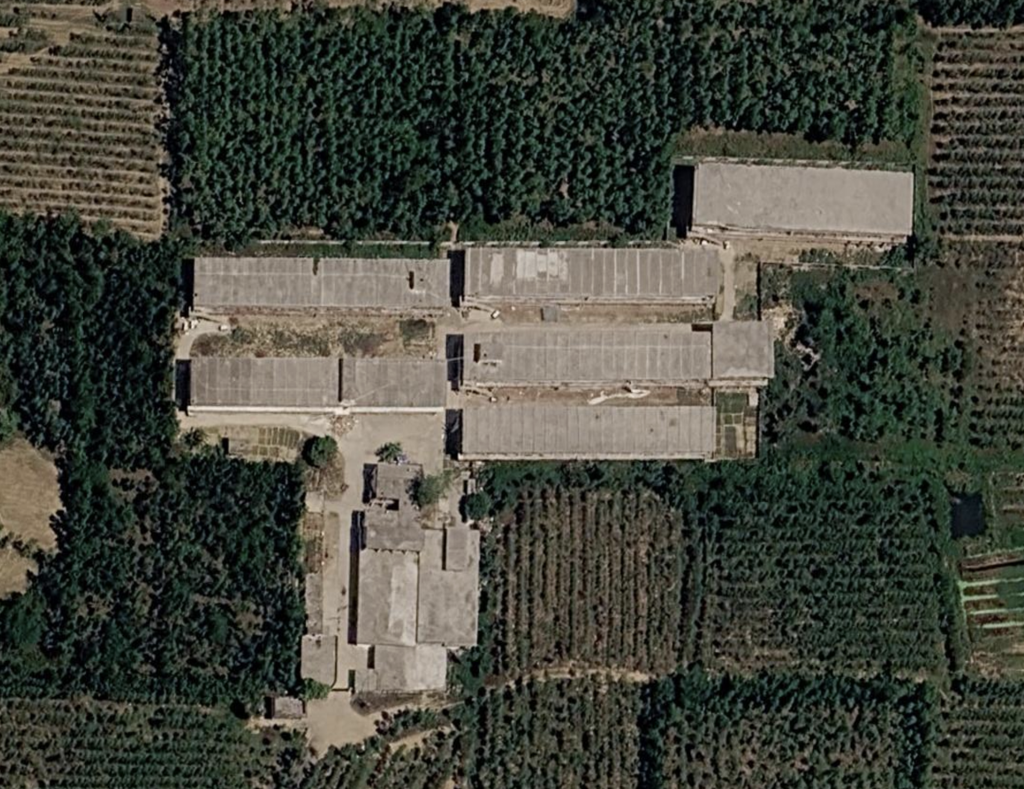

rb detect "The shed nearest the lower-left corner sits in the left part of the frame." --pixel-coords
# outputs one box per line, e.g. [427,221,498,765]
[274,699,304,722]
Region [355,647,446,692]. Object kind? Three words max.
house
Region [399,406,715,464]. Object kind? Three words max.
shed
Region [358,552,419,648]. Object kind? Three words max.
building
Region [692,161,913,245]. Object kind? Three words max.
shed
